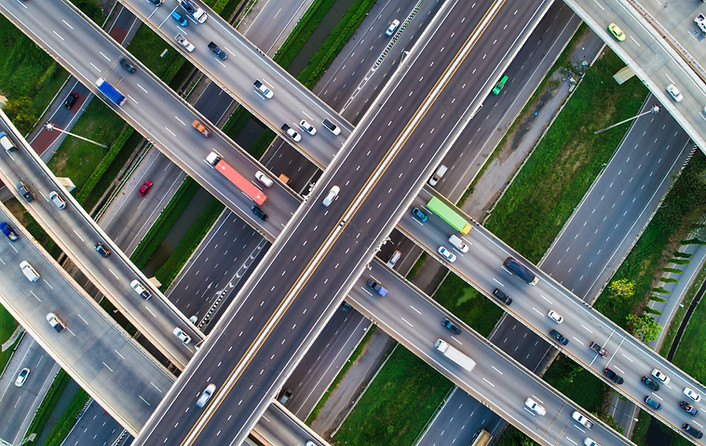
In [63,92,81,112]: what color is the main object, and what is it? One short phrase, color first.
black car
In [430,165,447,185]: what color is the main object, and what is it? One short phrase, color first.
white vehicle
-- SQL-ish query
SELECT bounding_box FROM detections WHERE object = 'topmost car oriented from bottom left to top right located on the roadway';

[384,19,401,38]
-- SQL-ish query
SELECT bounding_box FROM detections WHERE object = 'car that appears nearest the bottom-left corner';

[17,369,30,385]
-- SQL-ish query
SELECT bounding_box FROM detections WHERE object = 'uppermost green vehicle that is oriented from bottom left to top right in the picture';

[492,74,510,94]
